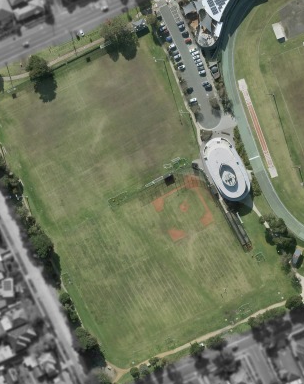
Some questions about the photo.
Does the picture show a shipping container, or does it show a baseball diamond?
baseball diamond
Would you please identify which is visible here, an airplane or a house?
house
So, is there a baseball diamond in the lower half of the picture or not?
Yes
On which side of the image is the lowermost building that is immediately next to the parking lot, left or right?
right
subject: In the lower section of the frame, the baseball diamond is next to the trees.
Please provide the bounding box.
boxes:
[34,162,294,366]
